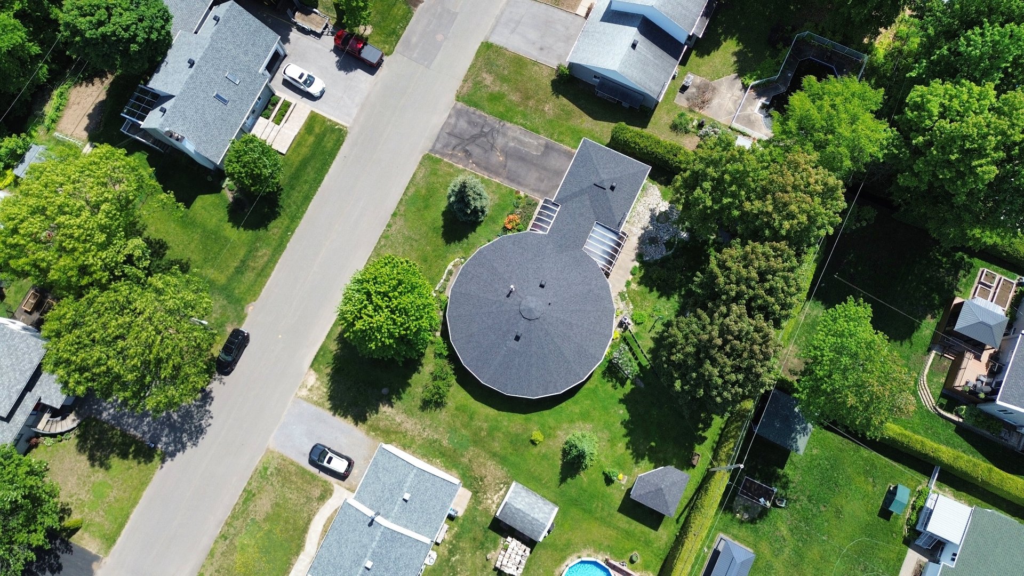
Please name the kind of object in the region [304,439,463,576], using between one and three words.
house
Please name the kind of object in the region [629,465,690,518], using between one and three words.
gazebo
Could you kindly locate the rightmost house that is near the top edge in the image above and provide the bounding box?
[565,0,719,116]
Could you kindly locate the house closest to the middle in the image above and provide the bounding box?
[446,136,651,401]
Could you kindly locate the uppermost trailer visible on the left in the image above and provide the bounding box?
[284,1,339,35]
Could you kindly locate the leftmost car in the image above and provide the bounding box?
[219,325,253,377]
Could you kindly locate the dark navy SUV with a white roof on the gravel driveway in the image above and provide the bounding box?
[307,446,357,478]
